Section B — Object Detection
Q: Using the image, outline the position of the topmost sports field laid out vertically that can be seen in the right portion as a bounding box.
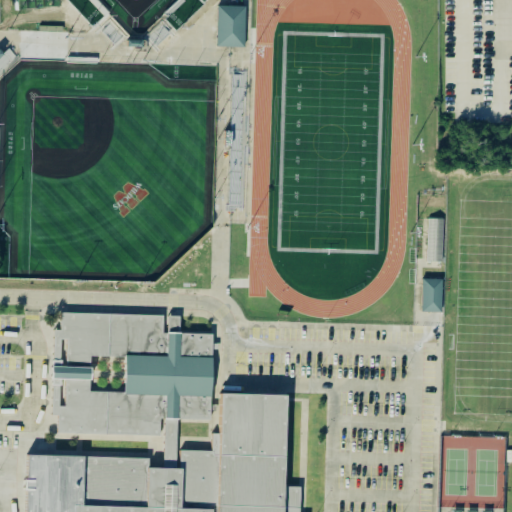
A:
[268,22,394,300]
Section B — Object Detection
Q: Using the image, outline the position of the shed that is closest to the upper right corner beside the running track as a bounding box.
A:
[426,218,444,262]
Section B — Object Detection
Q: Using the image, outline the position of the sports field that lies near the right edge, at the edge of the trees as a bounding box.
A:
[443,178,512,432]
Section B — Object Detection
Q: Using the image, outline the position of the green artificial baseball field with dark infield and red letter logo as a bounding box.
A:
[0,60,217,280]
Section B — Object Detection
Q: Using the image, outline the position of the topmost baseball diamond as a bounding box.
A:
[106,0,178,34]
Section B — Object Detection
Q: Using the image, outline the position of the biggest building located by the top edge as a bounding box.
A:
[217,6,246,47]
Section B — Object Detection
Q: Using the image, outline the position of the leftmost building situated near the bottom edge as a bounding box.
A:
[22,313,302,512]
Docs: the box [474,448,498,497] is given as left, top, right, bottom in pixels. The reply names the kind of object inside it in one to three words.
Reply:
tennis court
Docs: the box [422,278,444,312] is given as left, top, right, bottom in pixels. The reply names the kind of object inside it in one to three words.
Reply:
building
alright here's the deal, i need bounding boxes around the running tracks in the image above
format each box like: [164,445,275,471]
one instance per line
[250,0,413,318]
